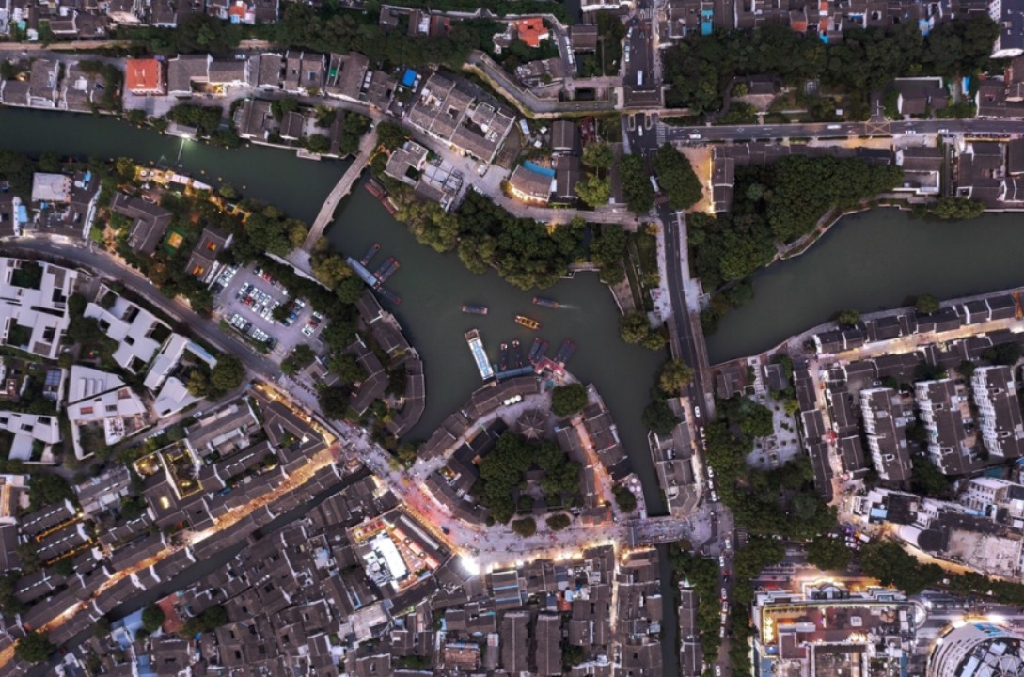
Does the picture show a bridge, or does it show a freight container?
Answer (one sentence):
This aerial view contains a bridge.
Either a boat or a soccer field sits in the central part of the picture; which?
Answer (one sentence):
You can see a boat in the central part of the picture.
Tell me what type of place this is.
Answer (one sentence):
This image shows a residential area.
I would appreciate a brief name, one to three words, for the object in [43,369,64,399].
greenhouse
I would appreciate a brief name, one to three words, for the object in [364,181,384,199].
boat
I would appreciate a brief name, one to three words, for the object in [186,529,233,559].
house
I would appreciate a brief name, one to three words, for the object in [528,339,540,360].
boat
